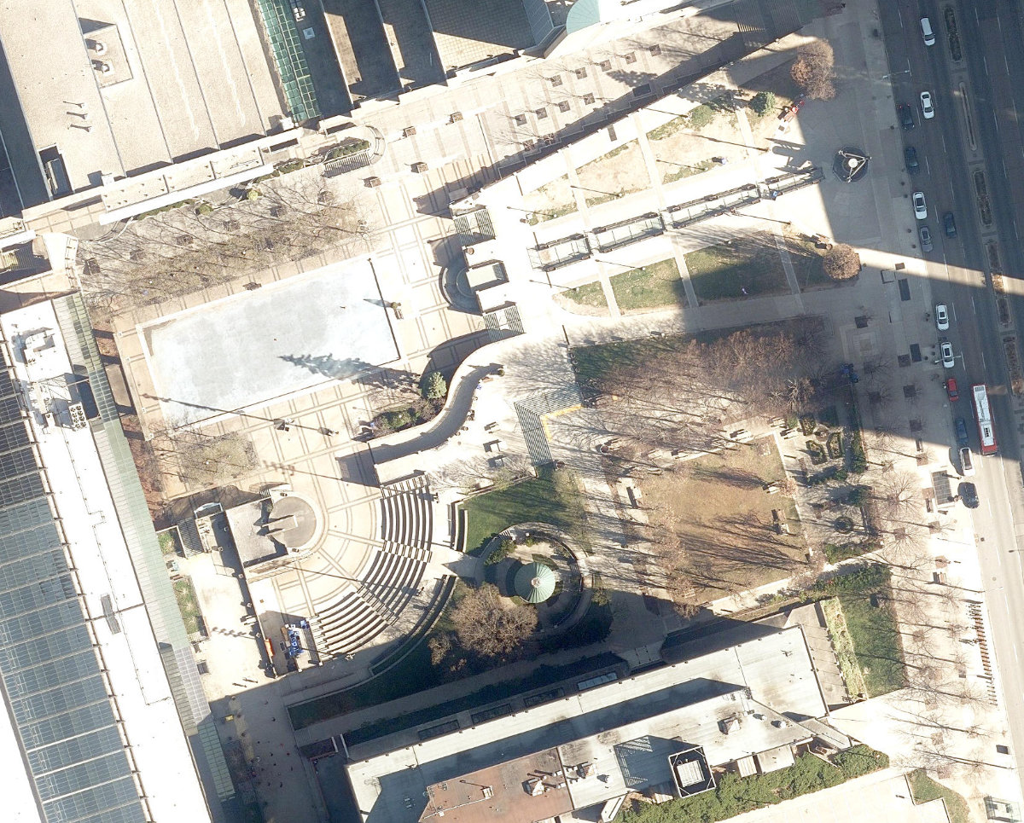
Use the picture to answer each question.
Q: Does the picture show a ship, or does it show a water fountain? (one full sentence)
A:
The one in the frame is a water fountain.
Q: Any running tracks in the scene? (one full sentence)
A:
No, the scene contains no running track.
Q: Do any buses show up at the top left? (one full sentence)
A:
No, there is no bus at the top left.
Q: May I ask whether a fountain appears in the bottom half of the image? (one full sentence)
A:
No, the scene shows no fountain in the bottom half of the image.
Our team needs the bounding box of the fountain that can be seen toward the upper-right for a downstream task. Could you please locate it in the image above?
[833,147,872,182]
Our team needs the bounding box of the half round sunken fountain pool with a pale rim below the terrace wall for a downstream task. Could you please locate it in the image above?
[439,249,470,312]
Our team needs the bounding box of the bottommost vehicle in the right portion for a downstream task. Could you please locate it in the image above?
[963,481,978,508]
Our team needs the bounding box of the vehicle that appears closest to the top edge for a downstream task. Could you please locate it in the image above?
[920,17,936,46]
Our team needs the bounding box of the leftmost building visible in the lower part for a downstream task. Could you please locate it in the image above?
[0,287,244,823]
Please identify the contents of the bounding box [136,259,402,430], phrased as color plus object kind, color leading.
white sports court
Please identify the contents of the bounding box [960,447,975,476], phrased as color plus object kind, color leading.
white car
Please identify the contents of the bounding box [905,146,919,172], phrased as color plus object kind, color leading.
black car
